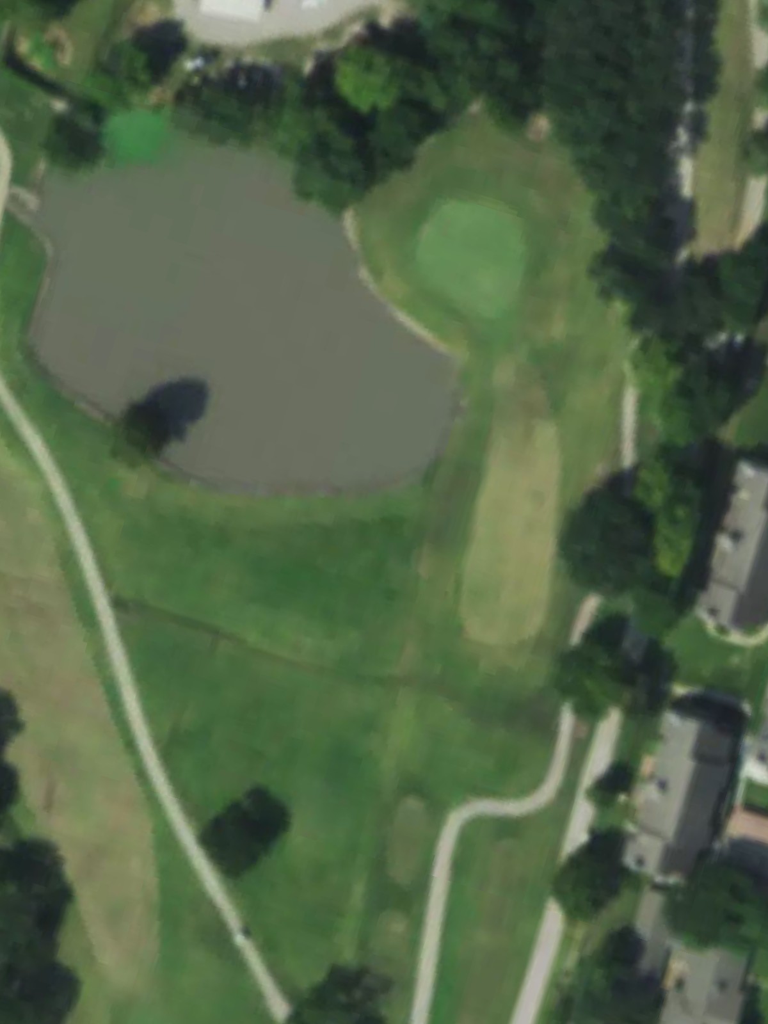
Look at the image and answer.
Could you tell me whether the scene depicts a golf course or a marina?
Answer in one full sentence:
The area seen from above is a golf course.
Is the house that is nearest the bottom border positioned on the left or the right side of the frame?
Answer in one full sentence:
It is on the right.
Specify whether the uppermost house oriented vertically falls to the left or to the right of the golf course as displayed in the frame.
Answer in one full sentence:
The golf course has the uppermost house oriented vertically on its right side.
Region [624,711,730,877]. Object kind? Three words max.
house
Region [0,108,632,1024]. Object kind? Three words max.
golf course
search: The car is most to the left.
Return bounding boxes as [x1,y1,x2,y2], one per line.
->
[182,53,204,70]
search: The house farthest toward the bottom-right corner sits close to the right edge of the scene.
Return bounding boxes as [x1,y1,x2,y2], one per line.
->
[653,935,748,1024]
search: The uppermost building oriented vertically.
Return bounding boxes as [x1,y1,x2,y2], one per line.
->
[693,459,768,634]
